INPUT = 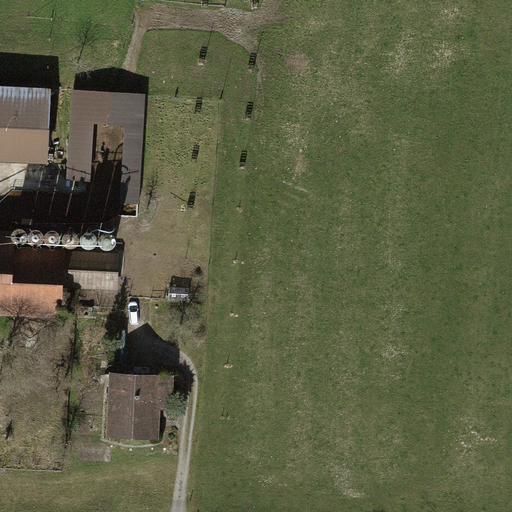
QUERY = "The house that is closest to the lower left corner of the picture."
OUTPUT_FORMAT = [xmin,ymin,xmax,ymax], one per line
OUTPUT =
[103,367,175,442]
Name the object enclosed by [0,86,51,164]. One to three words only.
barn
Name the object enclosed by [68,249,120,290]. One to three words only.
shed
